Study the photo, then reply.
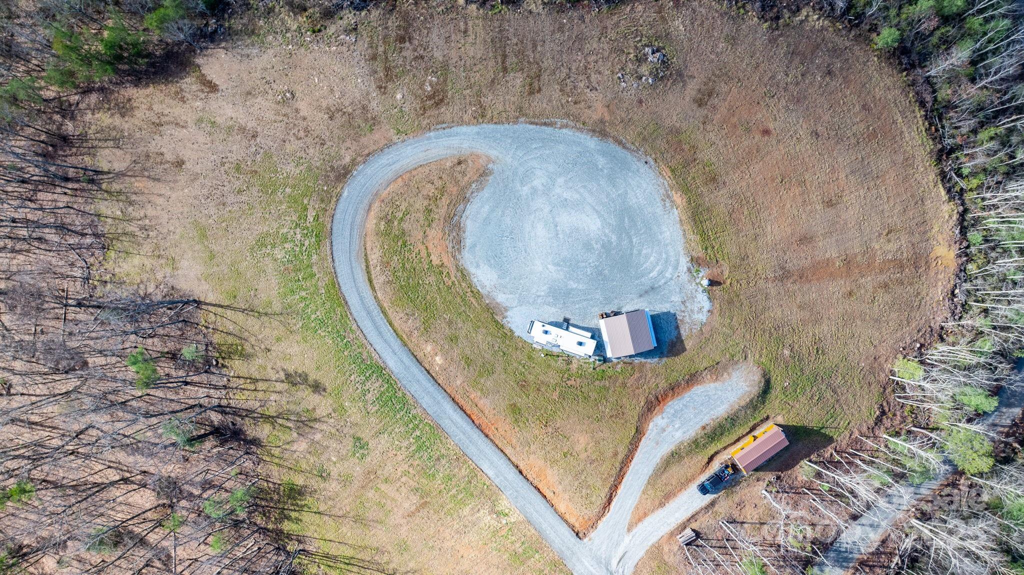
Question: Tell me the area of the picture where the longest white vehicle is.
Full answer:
The longest white vehicle appears toward the center of the photo.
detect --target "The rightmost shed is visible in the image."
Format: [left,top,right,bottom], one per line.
[732,425,792,475]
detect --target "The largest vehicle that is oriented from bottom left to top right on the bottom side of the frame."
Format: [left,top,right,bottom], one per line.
[696,465,736,495]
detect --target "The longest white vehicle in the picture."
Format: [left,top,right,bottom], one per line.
[527,319,597,358]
